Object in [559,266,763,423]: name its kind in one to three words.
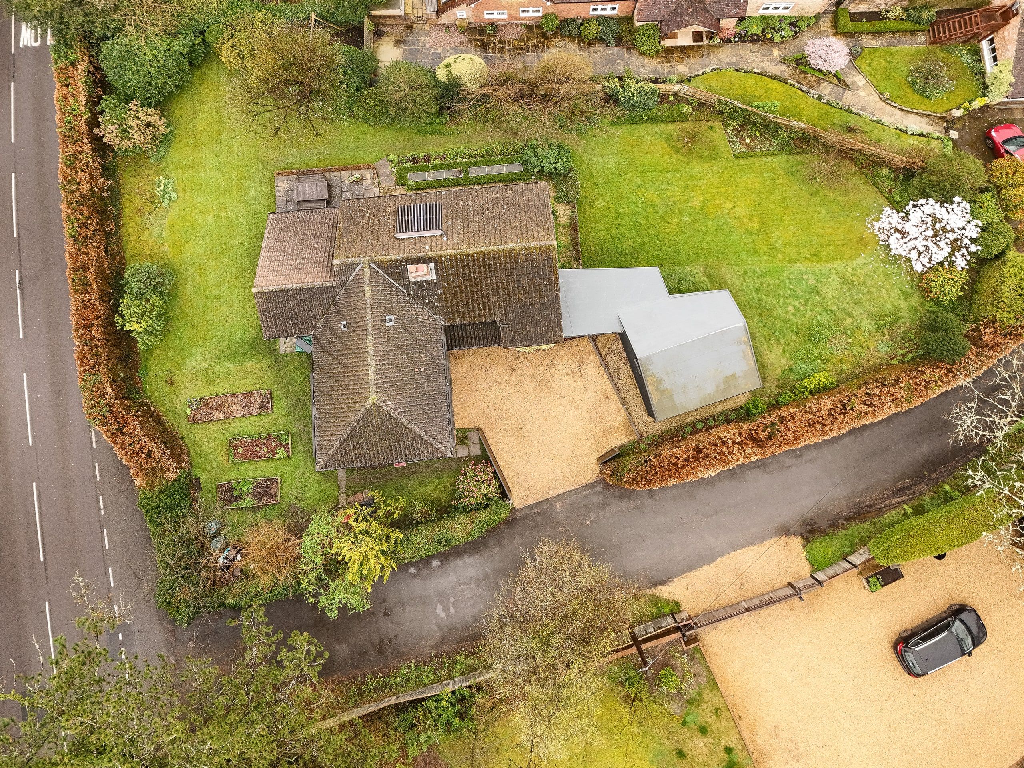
building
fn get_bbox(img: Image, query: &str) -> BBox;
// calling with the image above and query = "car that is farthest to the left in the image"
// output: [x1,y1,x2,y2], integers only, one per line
[896,602,982,675]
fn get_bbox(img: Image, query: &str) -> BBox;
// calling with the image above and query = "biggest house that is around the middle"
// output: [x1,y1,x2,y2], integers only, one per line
[254,179,566,473]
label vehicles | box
[896,602,982,675]
[984,125,1024,171]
